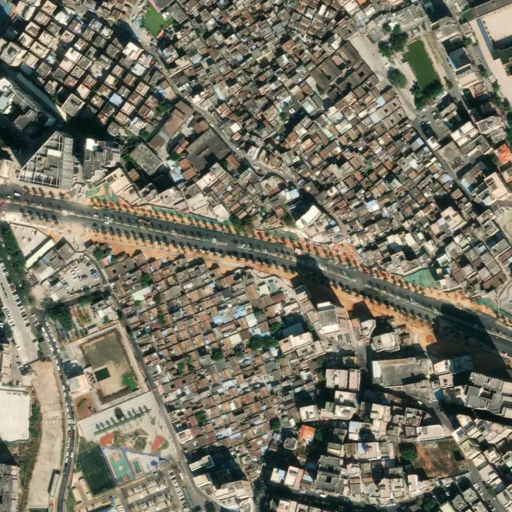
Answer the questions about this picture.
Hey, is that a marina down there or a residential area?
residential area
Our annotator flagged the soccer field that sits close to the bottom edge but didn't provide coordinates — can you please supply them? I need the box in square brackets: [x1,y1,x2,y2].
[80,449,116,496]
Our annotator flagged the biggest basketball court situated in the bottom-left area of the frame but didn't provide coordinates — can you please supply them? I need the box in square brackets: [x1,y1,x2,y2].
[105,450,130,485]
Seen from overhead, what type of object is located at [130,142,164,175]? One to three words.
building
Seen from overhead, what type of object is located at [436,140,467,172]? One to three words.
house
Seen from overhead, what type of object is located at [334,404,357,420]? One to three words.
building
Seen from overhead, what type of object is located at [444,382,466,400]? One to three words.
house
